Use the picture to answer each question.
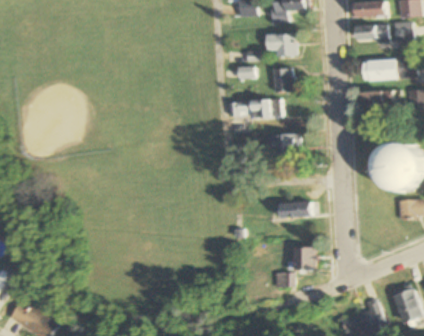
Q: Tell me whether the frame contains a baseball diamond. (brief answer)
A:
Yes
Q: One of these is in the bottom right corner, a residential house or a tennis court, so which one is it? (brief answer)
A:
residential house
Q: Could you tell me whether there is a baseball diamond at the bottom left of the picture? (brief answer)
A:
No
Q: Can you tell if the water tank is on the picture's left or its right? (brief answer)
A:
right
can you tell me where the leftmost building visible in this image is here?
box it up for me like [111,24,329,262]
[10,305,58,336]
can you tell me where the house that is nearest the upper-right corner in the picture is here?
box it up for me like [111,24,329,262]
[400,0,423,18]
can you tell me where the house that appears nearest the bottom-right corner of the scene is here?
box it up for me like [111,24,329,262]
[393,285,424,328]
